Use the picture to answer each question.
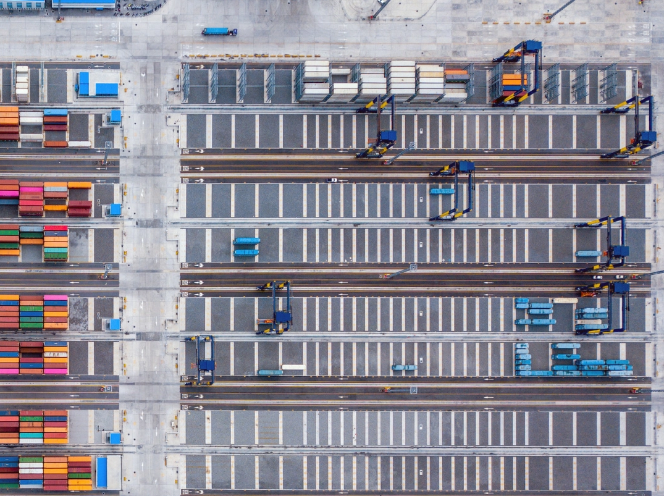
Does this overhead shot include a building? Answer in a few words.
Yes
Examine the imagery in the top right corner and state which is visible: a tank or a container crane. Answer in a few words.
container crane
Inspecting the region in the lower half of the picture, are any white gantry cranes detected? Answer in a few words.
No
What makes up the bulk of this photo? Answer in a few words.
paved ground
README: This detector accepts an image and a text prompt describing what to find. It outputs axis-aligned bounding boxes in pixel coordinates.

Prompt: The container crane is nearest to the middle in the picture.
[258,280,291,335]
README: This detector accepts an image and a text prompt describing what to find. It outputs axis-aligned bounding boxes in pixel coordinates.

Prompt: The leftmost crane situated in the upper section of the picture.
[358,93,398,157]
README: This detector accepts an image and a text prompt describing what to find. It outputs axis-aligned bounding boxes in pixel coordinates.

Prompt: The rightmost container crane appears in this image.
[604,93,658,157]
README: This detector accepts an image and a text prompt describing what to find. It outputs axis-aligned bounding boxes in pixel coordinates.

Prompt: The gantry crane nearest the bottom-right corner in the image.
[578,280,631,335]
